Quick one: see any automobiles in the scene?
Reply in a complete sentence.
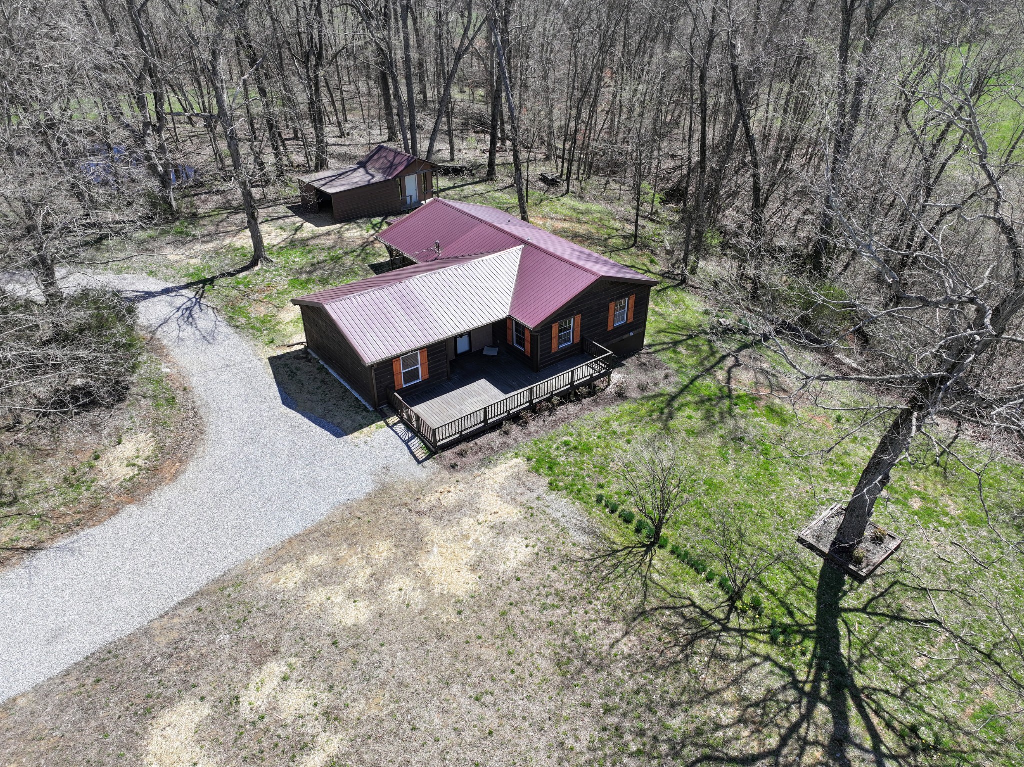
No, there's no automobile here.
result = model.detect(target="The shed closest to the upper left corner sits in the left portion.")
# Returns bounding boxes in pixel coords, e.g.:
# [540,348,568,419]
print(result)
[301,144,442,224]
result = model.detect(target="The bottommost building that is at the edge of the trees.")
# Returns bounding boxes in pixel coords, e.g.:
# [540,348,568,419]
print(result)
[291,198,661,417]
